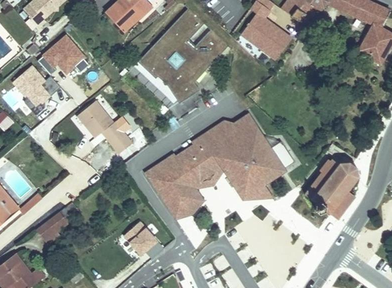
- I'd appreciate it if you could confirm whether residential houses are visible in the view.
Yes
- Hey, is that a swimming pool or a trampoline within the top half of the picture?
swimming pool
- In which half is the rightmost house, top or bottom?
top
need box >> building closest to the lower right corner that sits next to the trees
[310,158,361,220]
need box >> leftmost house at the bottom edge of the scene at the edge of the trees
[0,253,45,288]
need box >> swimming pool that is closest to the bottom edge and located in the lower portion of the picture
[0,161,34,204]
